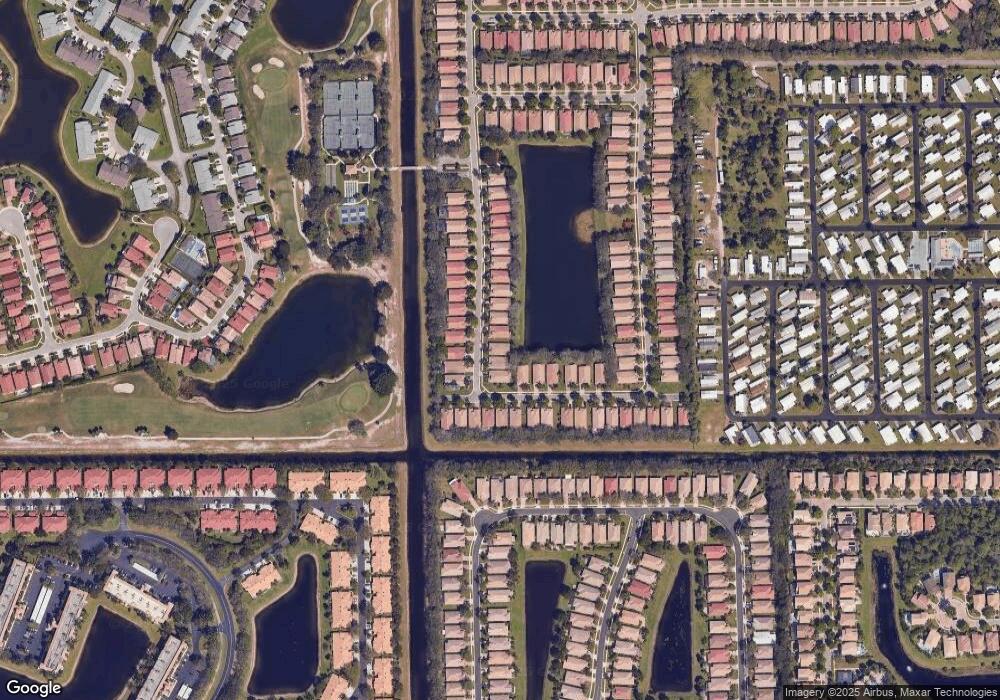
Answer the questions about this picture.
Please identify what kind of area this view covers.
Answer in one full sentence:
It's a residential area.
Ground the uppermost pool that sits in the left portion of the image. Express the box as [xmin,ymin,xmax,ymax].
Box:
[180,234,208,265]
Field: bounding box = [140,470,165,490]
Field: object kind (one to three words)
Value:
house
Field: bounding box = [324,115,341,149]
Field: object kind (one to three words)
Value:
tennis court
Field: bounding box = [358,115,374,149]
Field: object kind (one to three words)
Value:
tennis court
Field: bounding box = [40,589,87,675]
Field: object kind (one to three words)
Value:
building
